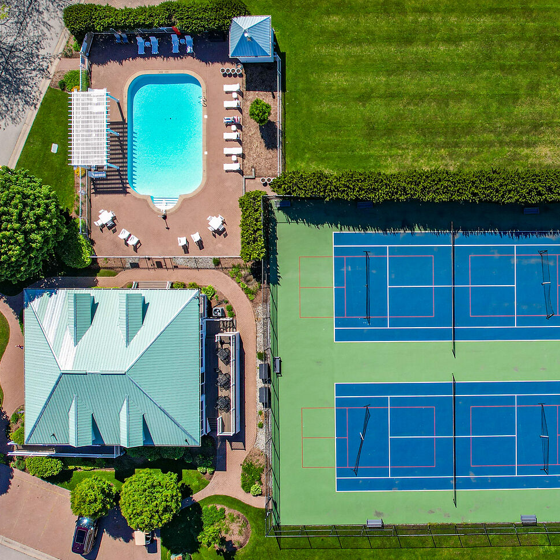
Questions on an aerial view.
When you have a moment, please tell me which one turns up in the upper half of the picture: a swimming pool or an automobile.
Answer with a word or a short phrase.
swimming pool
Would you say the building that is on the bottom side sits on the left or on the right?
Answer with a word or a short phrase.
left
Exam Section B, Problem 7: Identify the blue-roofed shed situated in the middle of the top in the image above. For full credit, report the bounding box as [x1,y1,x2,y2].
[229,15,273,62]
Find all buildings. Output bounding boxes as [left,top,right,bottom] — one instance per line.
[21,286,214,450]
[229,15,273,62]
